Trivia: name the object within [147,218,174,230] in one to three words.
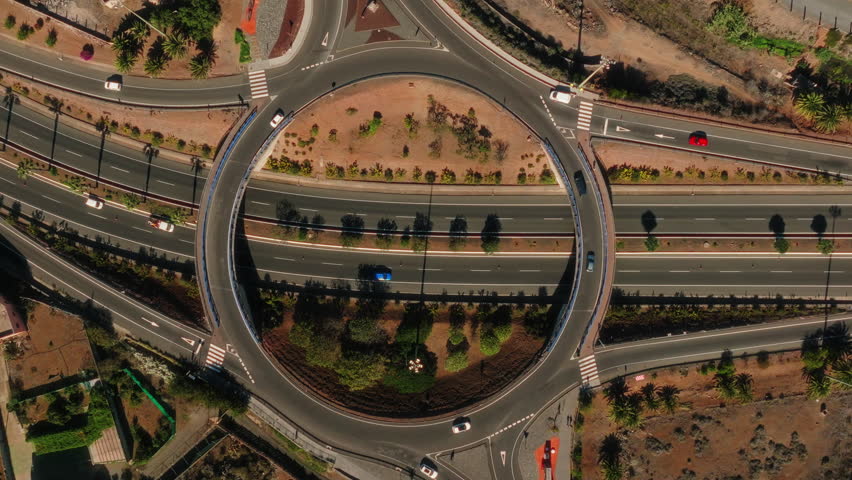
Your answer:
vehicle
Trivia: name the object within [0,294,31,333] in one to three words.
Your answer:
house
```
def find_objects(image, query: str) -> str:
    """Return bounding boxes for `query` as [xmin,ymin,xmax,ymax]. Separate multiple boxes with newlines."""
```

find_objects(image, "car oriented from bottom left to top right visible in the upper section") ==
[270,109,285,128]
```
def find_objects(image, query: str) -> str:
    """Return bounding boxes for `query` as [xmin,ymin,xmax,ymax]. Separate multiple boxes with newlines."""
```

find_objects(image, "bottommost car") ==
[419,463,438,478]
